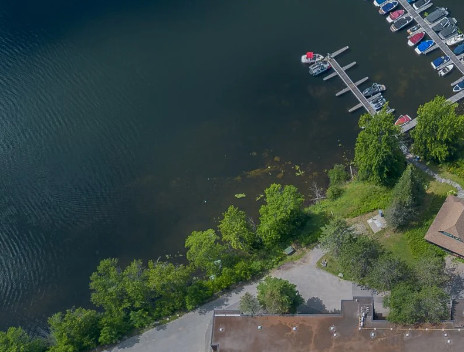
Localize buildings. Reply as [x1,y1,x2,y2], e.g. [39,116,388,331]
[424,195,464,259]
[210,295,464,352]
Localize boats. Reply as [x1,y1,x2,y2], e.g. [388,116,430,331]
[388,16,411,33]
[428,17,450,33]
[372,101,386,111]
[437,22,461,40]
[437,65,453,78]
[447,32,464,46]
[393,111,415,128]
[371,96,385,107]
[407,24,422,36]
[411,40,433,56]
[307,58,331,77]
[363,80,388,96]
[384,9,404,25]
[380,107,395,116]
[453,80,464,92]
[377,1,398,16]
[423,5,451,25]
[371,0,388,9]
[450,41,464,56]
[428,55,450,71]
[298,54,323,62]
[445,16,459,28]
[404,32,425,48]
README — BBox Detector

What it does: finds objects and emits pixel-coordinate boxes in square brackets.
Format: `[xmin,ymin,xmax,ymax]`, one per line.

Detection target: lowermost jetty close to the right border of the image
[399,99,446,133]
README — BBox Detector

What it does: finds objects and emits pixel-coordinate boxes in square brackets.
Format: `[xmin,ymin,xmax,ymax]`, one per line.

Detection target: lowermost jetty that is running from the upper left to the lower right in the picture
[327,55,377,119]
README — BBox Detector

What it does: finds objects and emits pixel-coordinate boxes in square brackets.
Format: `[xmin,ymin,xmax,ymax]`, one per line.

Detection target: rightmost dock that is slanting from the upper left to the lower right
[398,0,464,76]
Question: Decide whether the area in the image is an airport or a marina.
marina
